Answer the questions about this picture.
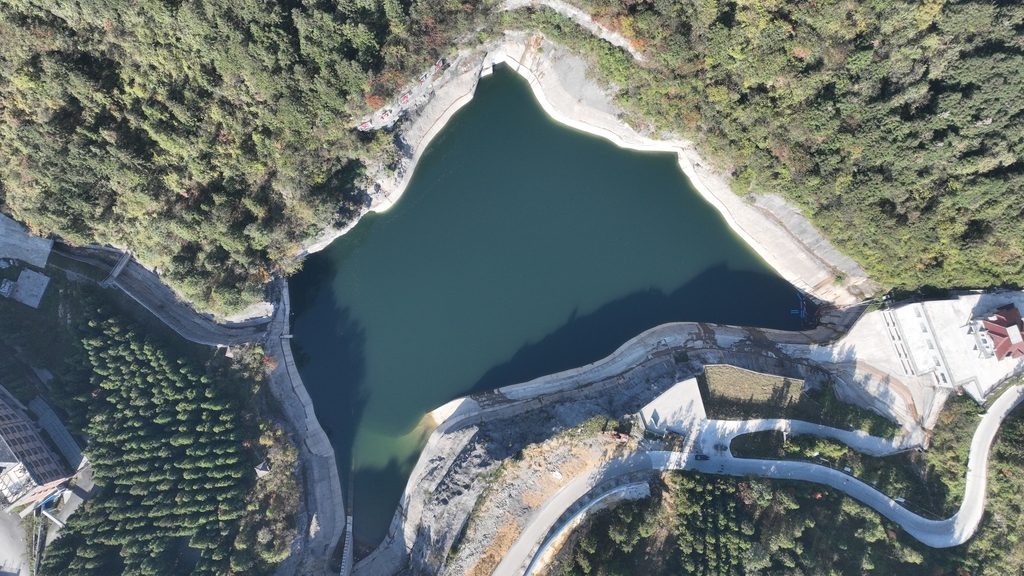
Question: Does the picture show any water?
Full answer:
Yes, water shows up in the scene.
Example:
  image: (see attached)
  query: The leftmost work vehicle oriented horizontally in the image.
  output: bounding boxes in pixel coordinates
[600,431,630,445]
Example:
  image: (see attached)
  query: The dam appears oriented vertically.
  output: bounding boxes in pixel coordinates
[271,278,344,576]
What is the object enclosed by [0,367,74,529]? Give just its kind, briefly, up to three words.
building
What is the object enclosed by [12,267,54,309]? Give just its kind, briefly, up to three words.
house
